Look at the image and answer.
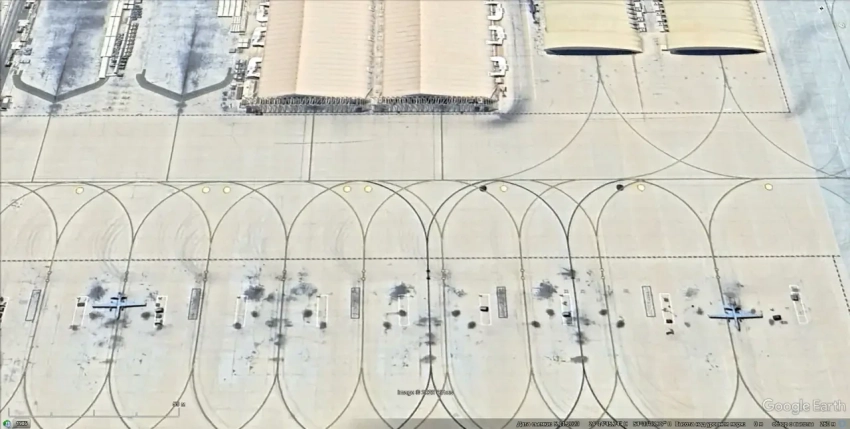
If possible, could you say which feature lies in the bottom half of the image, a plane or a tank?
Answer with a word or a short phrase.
plane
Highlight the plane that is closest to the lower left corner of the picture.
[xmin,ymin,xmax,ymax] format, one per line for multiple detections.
[90,290,147,319]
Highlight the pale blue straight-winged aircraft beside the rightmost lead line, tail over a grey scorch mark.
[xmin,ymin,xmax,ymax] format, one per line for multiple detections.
[709,303,764,331]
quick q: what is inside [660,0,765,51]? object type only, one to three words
hangar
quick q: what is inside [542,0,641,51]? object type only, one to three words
hangar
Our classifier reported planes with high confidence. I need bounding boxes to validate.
[90,290,147,319]
[709,303,764,331]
